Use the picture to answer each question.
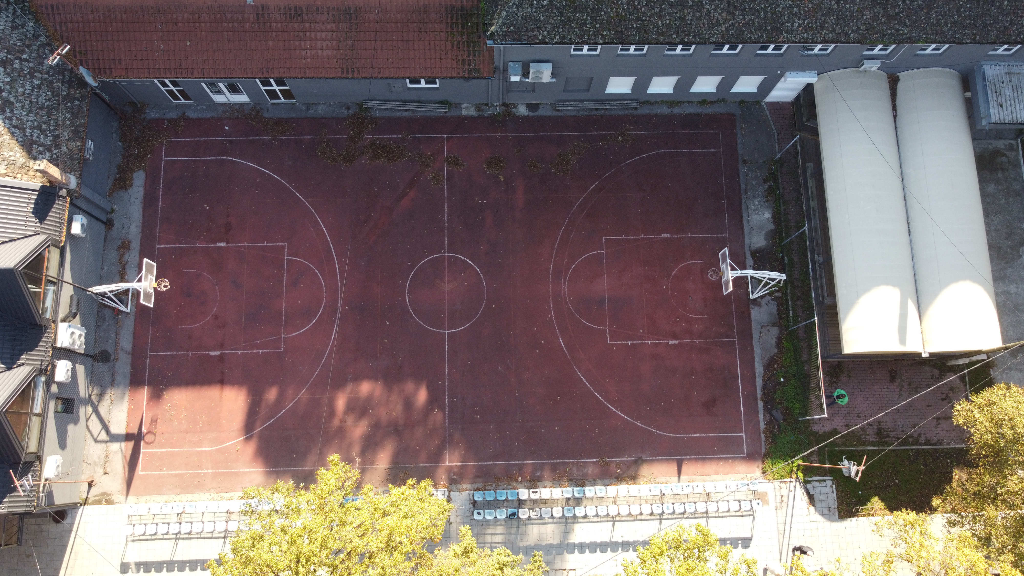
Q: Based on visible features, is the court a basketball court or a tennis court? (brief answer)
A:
basketball court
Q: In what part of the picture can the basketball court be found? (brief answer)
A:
center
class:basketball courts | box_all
[126,114,763,499]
